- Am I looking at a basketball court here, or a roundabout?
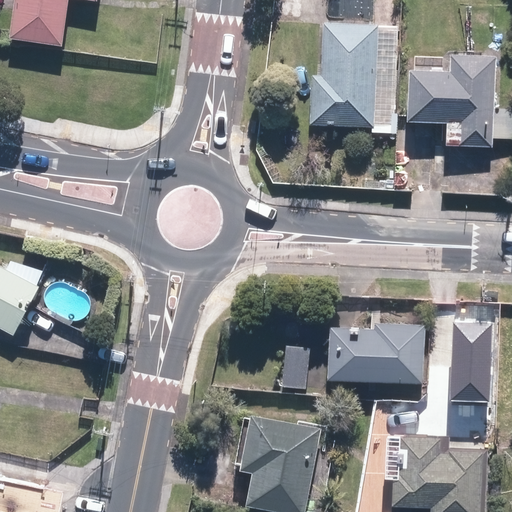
roundabout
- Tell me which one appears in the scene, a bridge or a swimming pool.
swimming pool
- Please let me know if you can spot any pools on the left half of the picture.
Yes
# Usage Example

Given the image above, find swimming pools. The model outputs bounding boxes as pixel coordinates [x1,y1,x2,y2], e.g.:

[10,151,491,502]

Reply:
[328,0,374,20]
[44,282,90,322]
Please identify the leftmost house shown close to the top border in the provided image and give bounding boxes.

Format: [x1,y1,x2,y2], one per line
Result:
[10,0,69,47]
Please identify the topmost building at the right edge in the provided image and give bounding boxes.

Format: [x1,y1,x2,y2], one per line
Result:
[406,54,496,148]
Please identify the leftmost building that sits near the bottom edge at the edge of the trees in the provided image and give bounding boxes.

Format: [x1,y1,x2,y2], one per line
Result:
[234,416,326,512]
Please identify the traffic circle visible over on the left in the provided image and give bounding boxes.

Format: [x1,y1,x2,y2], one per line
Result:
[157,184,224,251]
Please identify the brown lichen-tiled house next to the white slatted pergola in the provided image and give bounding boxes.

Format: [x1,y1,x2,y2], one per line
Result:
[392,436,488,512]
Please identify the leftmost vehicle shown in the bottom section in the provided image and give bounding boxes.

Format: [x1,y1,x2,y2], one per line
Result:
[26,311,54,332]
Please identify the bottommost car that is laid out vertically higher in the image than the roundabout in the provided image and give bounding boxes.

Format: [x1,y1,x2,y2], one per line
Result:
[213,112,228,145]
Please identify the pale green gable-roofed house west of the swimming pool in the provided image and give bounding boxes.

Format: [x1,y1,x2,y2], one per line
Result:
[0,261,42,336]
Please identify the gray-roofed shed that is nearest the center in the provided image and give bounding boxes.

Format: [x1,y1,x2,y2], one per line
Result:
[280,346,310,390]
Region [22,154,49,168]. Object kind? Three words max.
vehicle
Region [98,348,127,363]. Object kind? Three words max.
car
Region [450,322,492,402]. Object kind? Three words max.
house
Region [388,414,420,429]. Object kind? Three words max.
car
